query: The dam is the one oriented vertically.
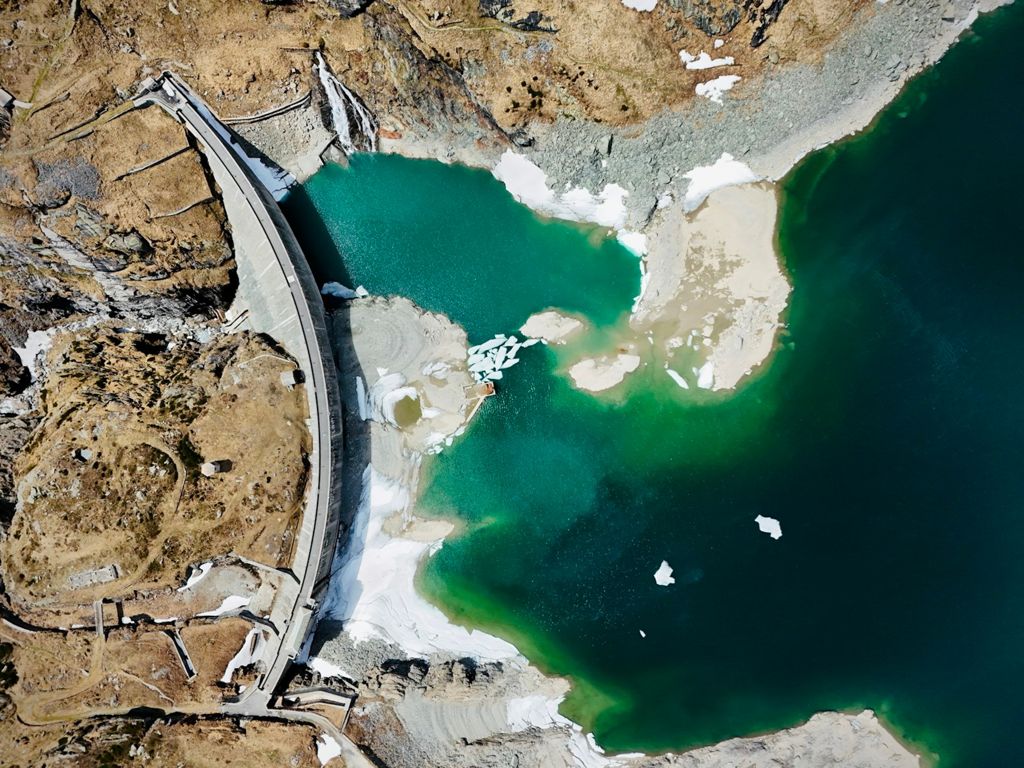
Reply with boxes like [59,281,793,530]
[177,102,341,693]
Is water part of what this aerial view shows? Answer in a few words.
Yes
